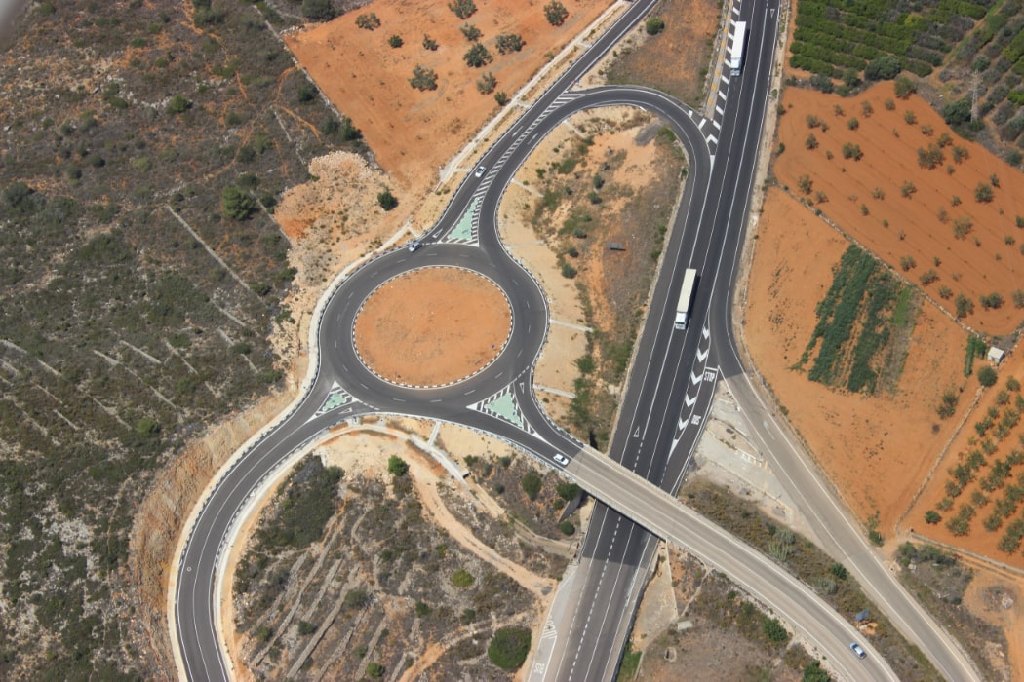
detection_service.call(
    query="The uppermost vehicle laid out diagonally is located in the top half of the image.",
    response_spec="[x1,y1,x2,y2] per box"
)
[474,165,487,179]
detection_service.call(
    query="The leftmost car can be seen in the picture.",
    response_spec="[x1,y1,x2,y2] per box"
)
[407,240,424,253]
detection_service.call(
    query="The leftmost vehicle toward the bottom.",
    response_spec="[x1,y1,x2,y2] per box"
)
[552,453,570,466]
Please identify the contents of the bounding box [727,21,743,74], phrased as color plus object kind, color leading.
white vehicle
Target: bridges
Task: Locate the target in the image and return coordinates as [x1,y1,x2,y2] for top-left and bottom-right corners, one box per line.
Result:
[547,443,903,682]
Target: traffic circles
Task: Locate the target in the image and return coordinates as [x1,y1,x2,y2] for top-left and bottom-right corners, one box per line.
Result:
[298,193,553,443]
